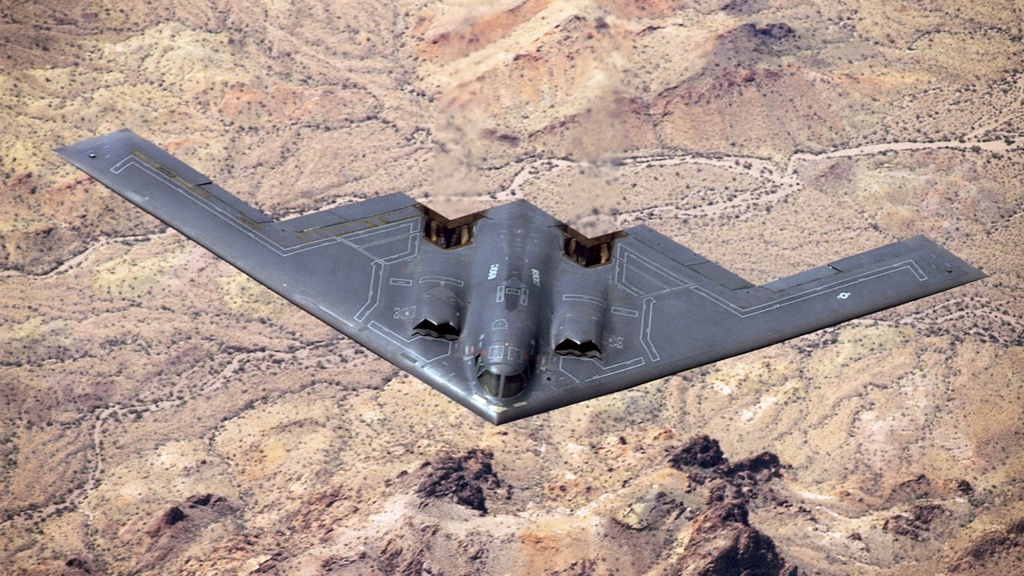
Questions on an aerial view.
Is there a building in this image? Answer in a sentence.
No, there is no building in the image.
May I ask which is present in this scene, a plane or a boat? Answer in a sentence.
Visible in the photo is a plane.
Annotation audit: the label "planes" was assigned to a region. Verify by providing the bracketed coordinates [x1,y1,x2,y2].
[53,130,987,425]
